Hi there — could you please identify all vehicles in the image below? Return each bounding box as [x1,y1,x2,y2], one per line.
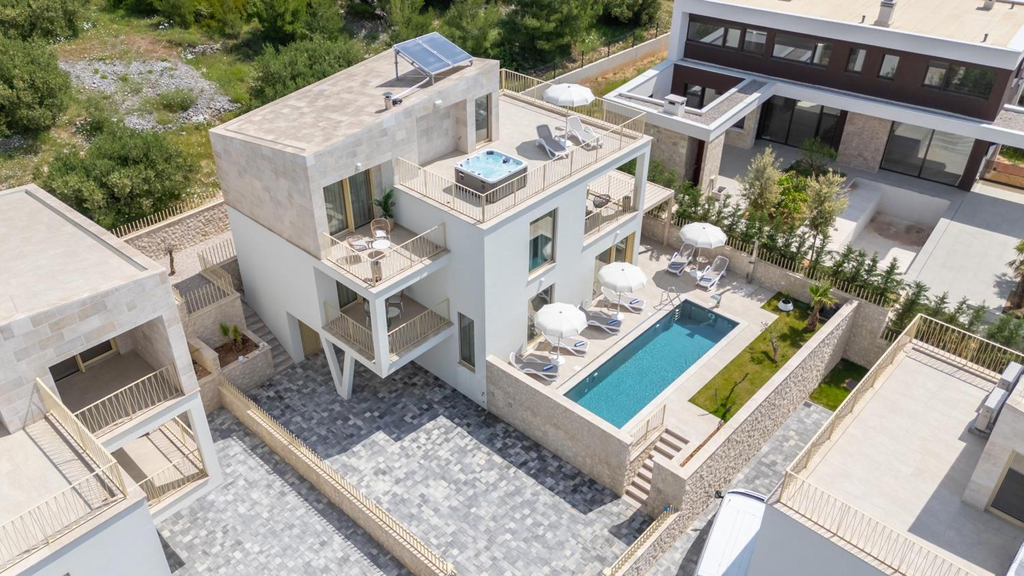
[680,501,764,576]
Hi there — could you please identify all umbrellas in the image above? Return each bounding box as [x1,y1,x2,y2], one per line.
[544,84,596,146]
[532,304,587,365]
[676,224,724,277]
[597,263,647,320]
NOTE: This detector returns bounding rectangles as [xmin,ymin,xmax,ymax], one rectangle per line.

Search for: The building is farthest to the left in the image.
[0,182,226,576]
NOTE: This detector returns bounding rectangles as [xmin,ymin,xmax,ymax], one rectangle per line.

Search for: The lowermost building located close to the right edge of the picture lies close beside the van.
[749,314,1024,576]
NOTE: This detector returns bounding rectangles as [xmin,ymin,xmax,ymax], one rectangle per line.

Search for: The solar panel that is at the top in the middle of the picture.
[391,23,475,102]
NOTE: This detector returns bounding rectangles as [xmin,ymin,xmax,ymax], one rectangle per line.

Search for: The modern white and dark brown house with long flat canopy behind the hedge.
[605,0,1024,192]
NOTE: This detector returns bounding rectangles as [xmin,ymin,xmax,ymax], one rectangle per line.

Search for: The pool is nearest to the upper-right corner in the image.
[805,178,951,277]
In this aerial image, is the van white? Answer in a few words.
Yes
